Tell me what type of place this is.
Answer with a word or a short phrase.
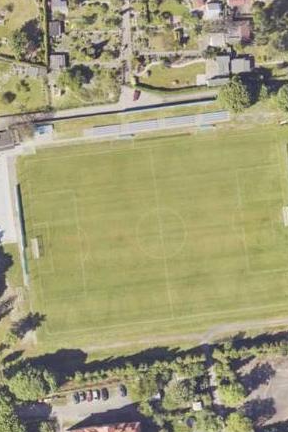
sports ground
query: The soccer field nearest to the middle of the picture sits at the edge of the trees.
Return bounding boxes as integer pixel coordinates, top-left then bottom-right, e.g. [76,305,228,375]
[22,124,288,345]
